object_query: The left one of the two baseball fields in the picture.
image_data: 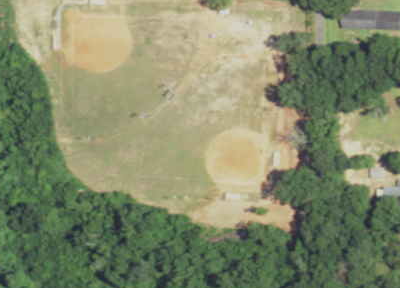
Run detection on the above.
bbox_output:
[63,8,198,140]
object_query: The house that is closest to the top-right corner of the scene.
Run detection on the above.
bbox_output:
[342,11,400,32]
